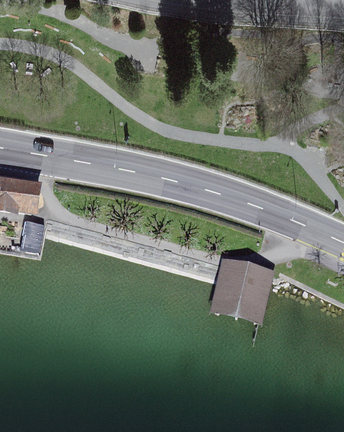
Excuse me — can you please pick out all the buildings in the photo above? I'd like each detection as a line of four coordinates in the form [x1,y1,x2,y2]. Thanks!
[208,258,274,328]
[0,176,41,218]
[20,220,44,256]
